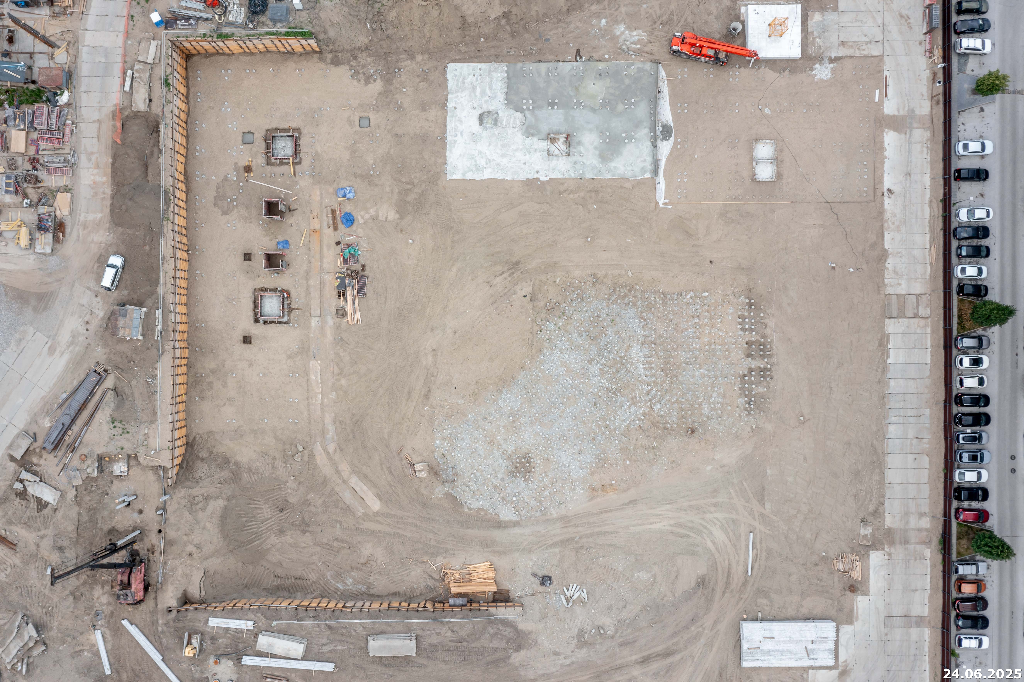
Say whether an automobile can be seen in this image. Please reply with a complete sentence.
Yes, there is an automobile in the image.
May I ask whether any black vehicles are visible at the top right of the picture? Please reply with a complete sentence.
Yes, looking at the top right of the picture, one can make out a black vehicle.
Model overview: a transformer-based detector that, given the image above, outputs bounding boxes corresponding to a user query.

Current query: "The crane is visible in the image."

[665,33,761,67]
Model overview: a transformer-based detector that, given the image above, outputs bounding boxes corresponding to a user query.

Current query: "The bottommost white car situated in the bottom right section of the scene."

[953,633,990,650]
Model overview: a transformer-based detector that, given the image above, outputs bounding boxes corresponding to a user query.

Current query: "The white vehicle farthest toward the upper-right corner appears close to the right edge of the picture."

[953,37,990,56]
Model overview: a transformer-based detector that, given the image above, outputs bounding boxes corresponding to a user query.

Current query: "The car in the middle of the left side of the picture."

[96,254,125,295]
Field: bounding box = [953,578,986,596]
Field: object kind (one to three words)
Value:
car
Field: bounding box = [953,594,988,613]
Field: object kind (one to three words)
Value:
car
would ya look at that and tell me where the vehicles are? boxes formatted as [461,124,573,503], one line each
[954,448,990,466]
[952,224,989,241]
[953,594,988,613]
[953,507,989,525]
[953,560,987,577]
[96,254,125,295]
[952,263,988,280]
[954,468,988,484]
[954,206,993,223]
[954,139,992,156]
[953,412,990,429]
[953,392,989,409]
[953,334,990,351]
[953,578,986,596]
[954,486,989,504]
[952,165,989,183]
[953,354,989,370]
[952,613,989,632]
[953,243,991,260]
[952,283,989,299]
[953,37,990,56]
[953,0,987,16]
[953,374,987,390]
[952,16,990,36]
[954,430,989,447]
[953,633,990,650]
